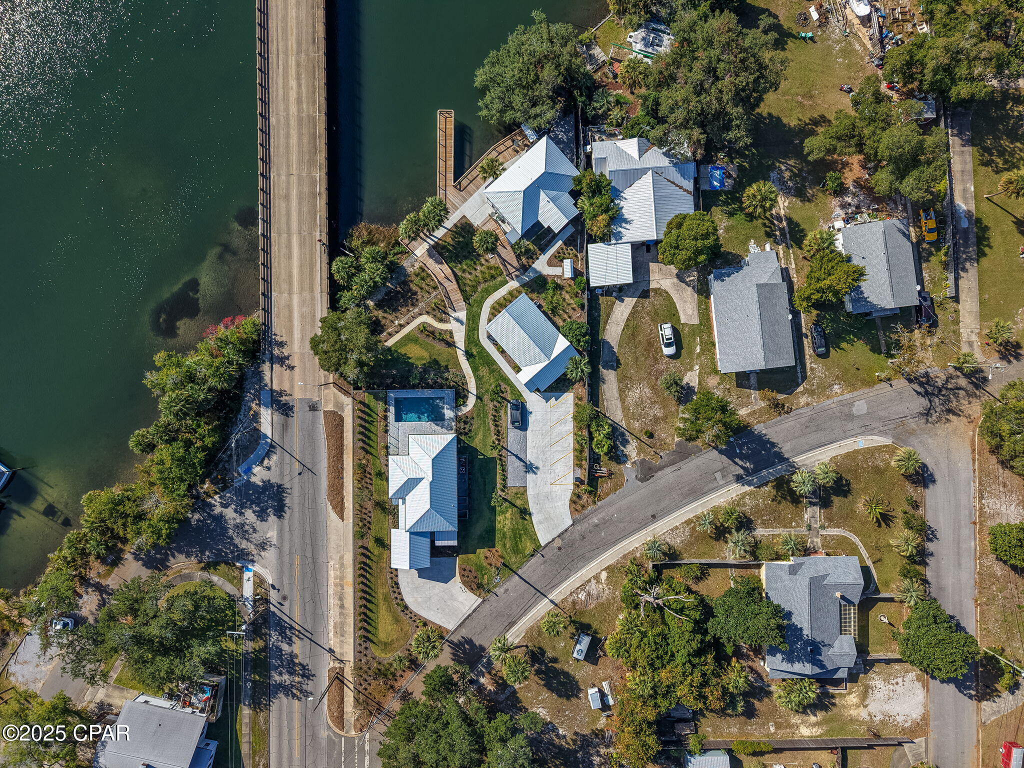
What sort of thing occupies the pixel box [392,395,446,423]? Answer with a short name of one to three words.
swimming pool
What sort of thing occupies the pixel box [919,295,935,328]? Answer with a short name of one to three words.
car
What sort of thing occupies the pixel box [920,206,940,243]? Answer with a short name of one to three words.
vehicle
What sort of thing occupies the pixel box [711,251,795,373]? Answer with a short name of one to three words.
house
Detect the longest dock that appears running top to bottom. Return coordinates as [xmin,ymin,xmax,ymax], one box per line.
[438,107,454,199]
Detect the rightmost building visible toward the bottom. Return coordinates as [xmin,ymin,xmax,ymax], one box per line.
[760,554,864,688]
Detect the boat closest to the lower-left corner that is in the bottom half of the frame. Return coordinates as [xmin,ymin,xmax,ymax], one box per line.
[0,464,21,488]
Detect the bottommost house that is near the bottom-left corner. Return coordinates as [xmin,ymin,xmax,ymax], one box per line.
[98,688,227,768]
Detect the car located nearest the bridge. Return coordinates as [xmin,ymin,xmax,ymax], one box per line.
[509,399,523,427]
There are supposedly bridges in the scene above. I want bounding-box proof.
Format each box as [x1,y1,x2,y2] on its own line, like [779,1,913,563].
[255,0,330,353]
